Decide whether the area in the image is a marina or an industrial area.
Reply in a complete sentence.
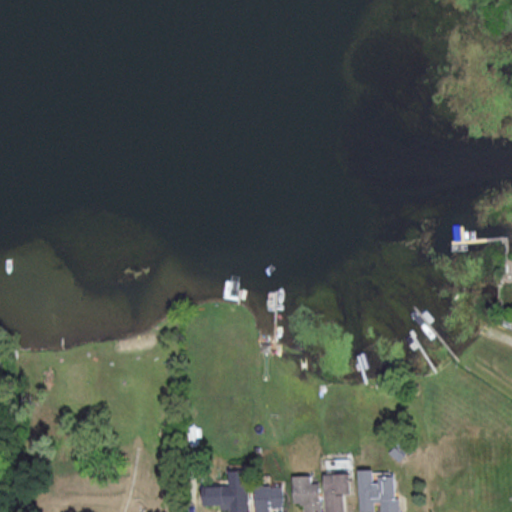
The area seen from above is a marina.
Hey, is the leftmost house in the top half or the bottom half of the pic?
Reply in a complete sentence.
The bottom half of the photo is where the leftmost house is.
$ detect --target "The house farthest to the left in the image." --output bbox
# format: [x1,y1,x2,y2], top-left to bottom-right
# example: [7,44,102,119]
[201,472,247,512]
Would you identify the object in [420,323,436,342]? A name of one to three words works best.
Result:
boat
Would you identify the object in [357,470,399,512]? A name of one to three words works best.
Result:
house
